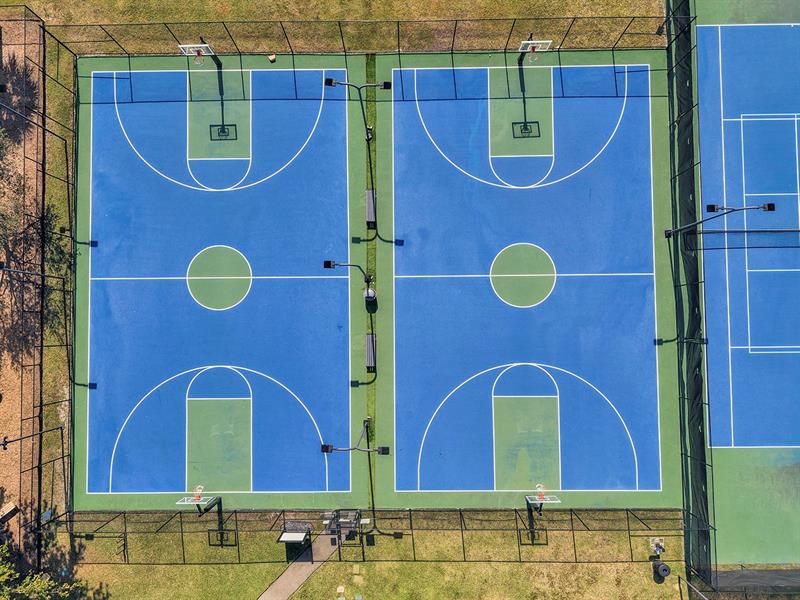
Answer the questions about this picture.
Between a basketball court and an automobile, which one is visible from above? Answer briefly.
basketball court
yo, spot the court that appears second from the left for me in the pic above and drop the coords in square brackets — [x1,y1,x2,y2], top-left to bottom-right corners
[375,49,682,508]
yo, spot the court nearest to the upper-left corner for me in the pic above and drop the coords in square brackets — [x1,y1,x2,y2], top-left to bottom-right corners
[70,52,369,509]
